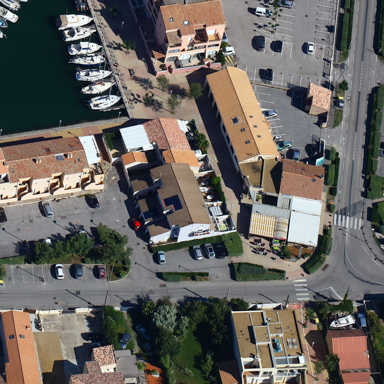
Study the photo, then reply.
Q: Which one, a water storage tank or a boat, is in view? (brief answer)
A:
boat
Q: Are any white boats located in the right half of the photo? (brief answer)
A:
Yes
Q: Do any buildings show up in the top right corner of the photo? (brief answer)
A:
Yes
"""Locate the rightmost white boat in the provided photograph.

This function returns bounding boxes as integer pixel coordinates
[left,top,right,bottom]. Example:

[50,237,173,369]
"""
[330,312,359,328]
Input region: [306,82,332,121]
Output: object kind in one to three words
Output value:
house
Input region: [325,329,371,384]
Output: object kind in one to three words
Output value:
house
